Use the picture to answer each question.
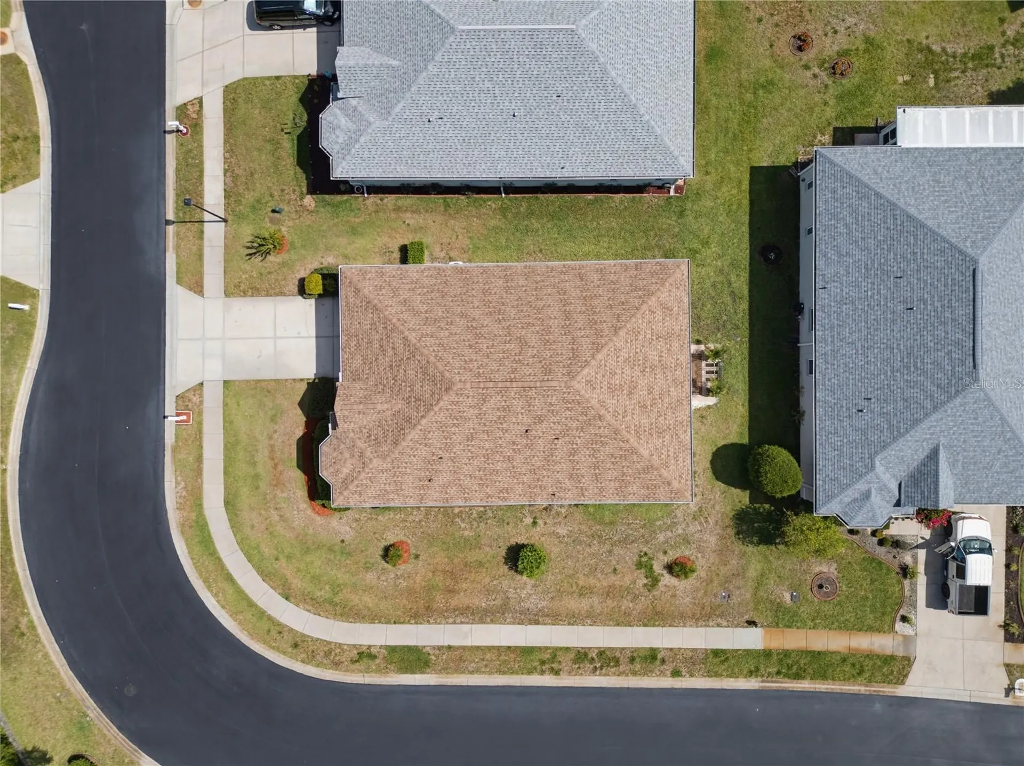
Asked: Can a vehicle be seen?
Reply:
Yes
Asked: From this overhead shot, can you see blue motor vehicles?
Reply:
No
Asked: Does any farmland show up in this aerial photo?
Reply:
No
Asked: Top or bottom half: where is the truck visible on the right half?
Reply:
bottom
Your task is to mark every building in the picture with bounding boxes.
[319,260,693,508]
[790,105,1024,528]
[319,0,695,193]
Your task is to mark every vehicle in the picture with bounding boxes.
[253,0,342,25]
[930,513,994,616]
